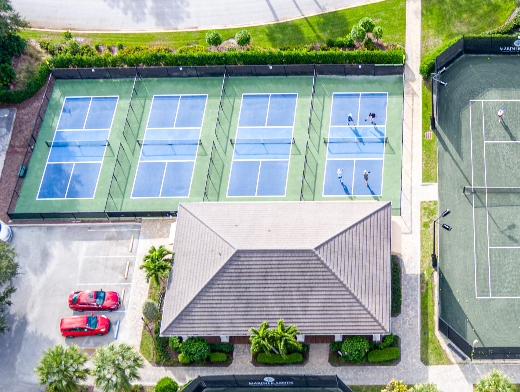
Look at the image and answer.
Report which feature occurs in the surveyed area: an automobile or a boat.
automobile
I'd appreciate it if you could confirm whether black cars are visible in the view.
No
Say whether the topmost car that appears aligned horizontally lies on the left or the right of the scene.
left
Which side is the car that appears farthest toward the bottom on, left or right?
left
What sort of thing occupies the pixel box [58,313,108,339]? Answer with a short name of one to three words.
car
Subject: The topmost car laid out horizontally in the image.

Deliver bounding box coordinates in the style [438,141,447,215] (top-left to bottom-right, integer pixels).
[66,289,121,312]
